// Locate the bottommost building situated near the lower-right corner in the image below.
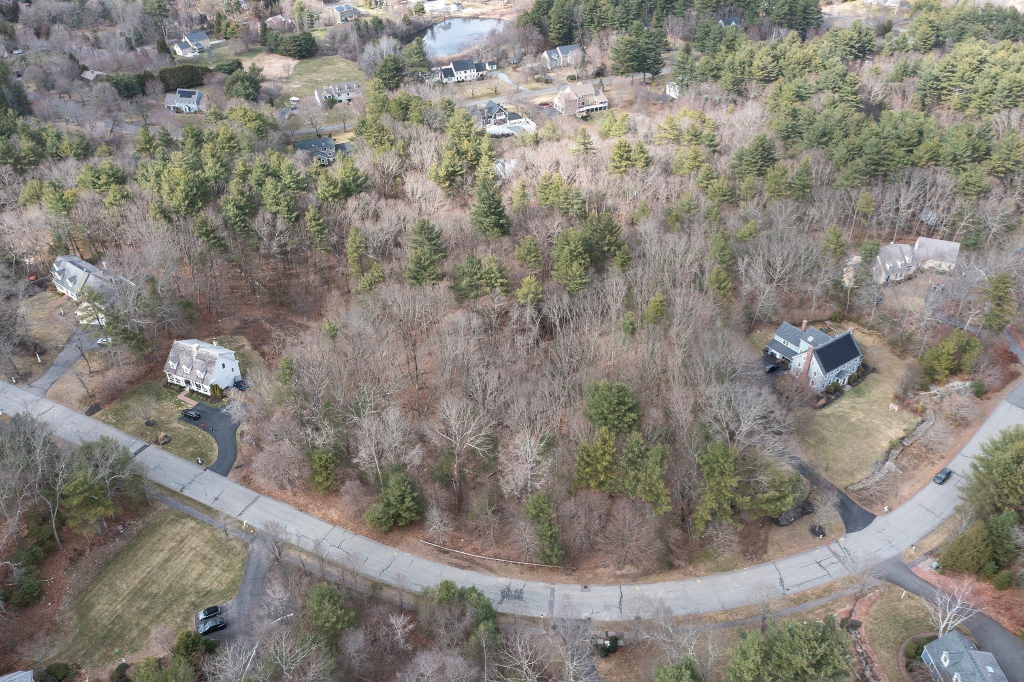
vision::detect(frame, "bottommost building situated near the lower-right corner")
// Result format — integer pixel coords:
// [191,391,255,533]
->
[920,626,1014,682]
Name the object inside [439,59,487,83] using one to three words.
house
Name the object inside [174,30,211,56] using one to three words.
house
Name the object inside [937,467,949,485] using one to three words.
vehicle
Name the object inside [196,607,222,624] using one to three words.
car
